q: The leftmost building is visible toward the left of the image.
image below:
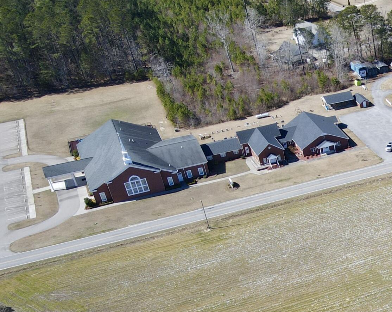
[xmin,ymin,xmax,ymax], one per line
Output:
[43,120,211,205]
